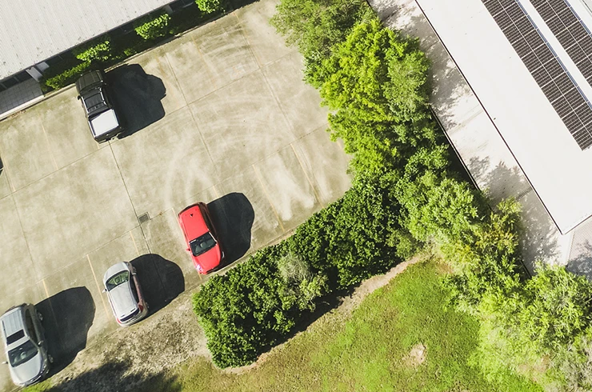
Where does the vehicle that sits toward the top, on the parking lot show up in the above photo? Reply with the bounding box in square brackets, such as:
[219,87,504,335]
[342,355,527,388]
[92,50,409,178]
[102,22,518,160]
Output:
[66,72,118,145]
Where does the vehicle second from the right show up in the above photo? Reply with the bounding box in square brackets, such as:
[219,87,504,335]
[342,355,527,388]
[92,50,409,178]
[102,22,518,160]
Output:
[97,257,150,334]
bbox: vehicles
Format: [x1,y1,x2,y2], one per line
[0,300,50,390]
[97,257,150,334]
[66,72,118,145]
[169,201,225,276]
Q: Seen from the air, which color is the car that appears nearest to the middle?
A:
red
